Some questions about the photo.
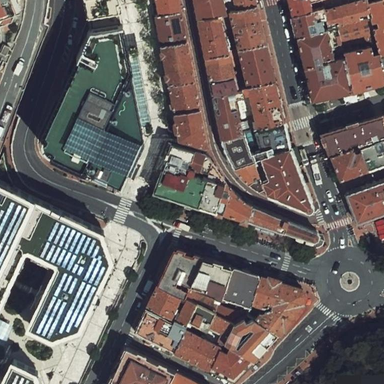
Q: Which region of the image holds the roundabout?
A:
bottom right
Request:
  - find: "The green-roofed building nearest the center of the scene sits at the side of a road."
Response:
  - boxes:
[152,158,204,208]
